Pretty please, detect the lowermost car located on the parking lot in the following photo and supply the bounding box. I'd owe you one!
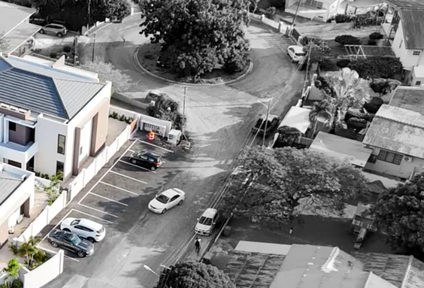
[45,227,96,255]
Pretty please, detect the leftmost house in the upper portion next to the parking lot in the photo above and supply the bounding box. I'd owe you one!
[0,52,116,176]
